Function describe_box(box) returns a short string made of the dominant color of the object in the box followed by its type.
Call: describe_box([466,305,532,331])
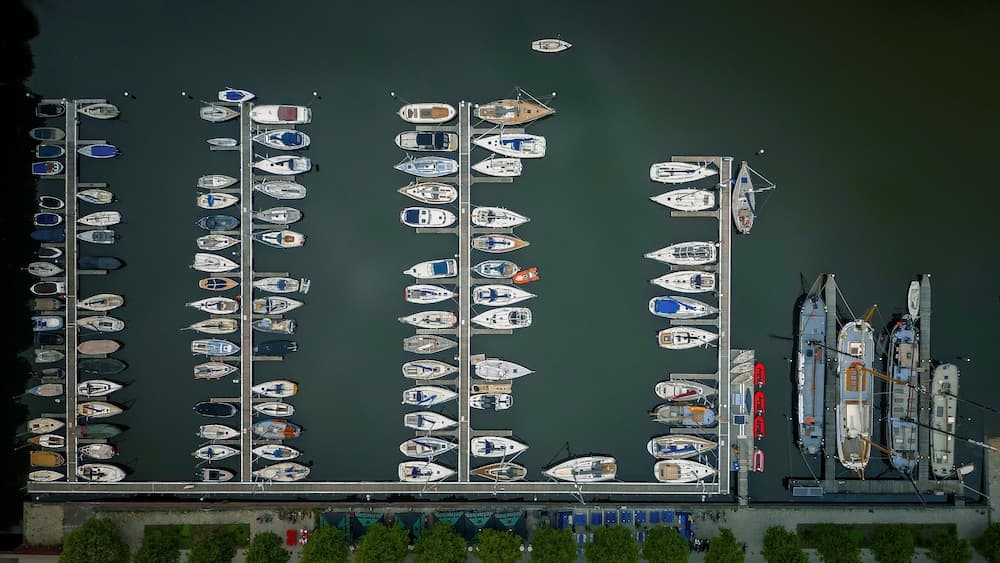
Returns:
white boat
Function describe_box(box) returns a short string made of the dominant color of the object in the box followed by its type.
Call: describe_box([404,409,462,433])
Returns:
white boat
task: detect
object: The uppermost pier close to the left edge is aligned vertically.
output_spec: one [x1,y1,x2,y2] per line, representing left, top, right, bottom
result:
[41,100,108,482]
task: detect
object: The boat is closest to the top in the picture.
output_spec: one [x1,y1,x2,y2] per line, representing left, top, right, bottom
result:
[532,37,572,54]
